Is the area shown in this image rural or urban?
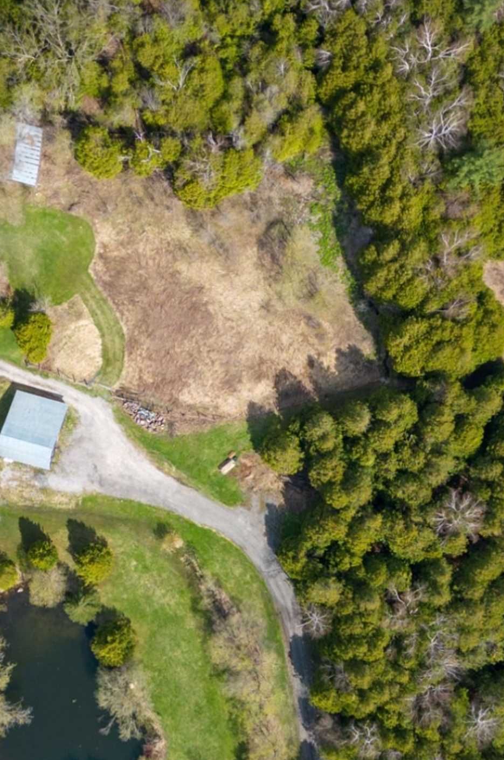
rural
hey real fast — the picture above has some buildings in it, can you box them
[0,390,68,470]
[13,125,43,188]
